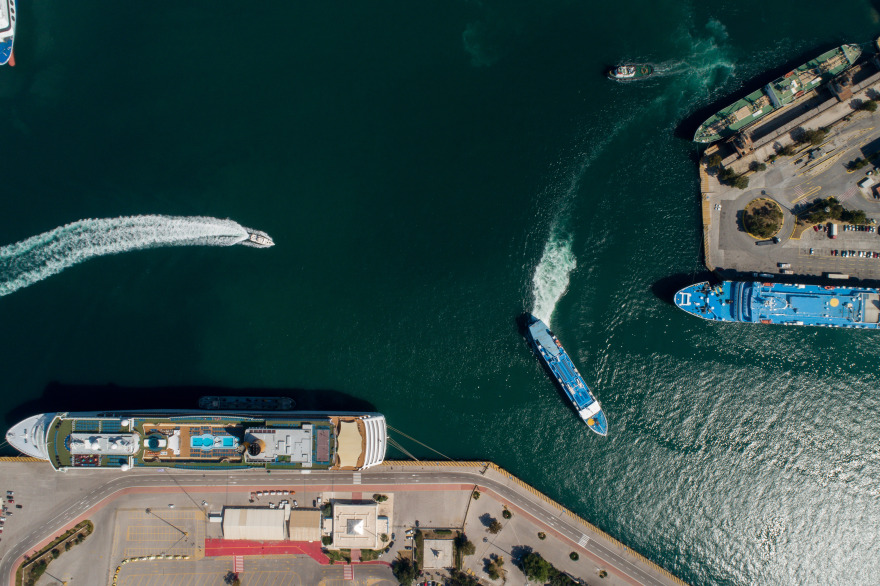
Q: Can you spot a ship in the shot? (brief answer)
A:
Yes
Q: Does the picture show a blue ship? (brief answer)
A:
Yes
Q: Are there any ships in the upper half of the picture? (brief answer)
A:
Yes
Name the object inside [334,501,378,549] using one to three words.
building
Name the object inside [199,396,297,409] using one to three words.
ship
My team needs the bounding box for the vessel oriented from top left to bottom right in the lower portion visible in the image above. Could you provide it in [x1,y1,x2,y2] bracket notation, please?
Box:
[524,318,608,436]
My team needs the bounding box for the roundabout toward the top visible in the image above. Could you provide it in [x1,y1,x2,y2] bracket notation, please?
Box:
[743,198,784,240]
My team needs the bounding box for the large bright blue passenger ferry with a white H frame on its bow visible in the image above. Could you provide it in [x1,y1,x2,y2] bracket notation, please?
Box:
[674,282,880,329]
